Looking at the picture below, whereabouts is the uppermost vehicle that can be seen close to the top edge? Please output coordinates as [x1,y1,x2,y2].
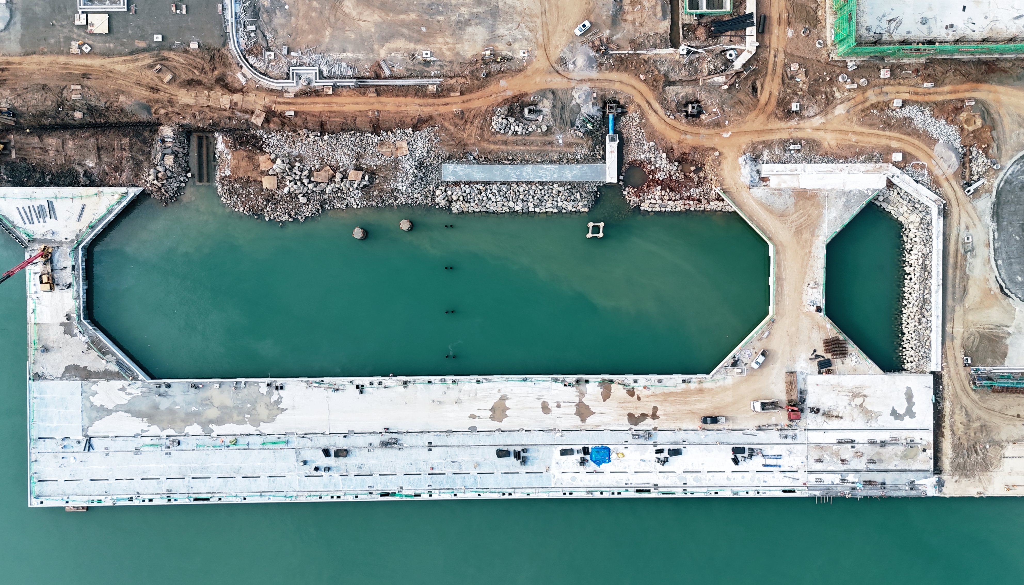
[574,16,592,36]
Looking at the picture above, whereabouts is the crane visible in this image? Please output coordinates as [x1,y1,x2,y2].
[0,244,66,292]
